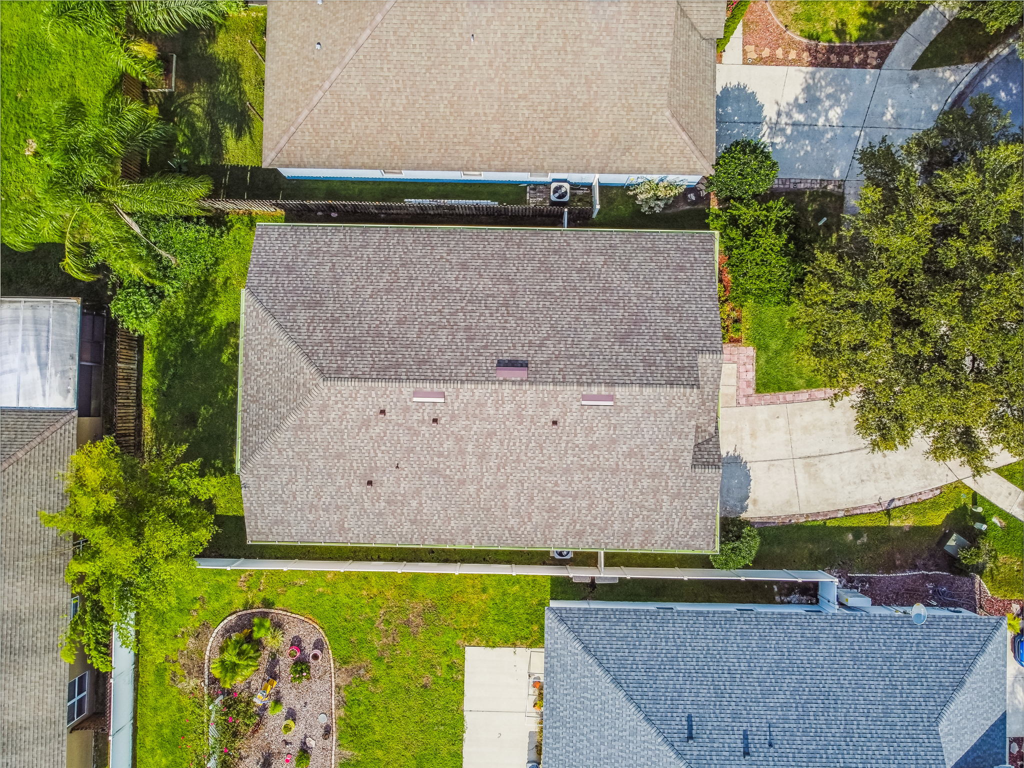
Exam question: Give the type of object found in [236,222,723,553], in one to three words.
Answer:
house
